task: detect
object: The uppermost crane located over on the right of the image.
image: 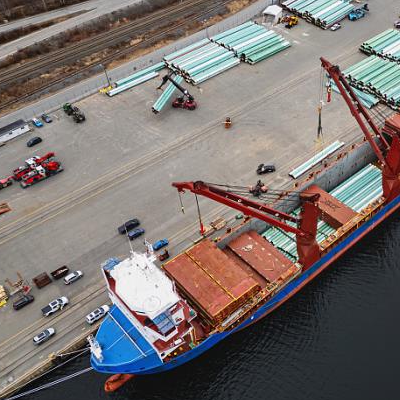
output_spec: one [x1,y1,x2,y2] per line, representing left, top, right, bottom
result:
[312,59,400,200]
